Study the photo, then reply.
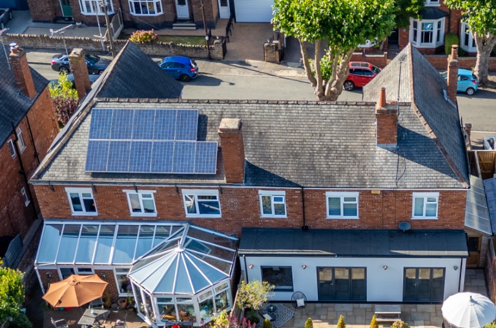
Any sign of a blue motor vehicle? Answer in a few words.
Yes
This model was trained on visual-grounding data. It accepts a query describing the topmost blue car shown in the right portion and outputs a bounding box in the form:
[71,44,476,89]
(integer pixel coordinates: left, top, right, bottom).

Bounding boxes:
[448,67,485,93]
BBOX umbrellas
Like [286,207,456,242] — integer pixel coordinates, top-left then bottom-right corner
[440,296,495,328]
[49,275,111,316]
